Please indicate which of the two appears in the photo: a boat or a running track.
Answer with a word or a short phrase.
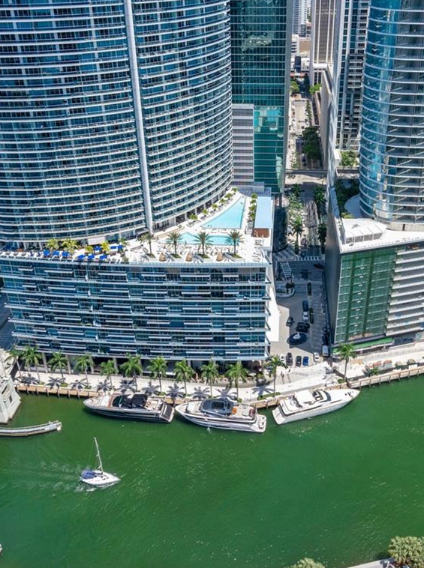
boat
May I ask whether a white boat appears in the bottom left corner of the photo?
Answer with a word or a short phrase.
Yes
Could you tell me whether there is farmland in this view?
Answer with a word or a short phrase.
No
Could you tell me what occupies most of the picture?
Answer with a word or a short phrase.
buildings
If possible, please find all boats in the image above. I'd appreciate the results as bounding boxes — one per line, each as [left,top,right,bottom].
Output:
[273,383,362,425]
[84,392,179,423]
[81,445,118,484]
[176,399,273,434]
